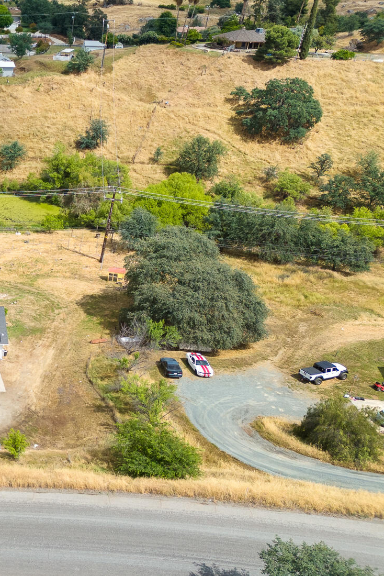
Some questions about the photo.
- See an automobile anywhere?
Yes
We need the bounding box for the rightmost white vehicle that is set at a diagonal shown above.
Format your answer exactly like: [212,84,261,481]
[182,350,218,379]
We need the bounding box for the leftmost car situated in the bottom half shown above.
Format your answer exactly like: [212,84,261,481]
[158,356,186,381]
